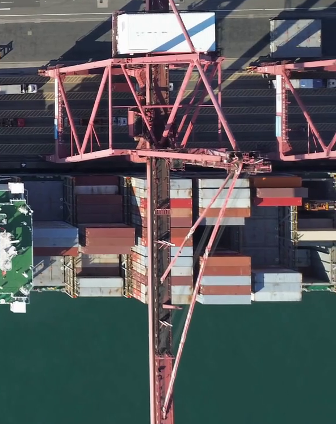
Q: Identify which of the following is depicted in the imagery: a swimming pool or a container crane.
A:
container crane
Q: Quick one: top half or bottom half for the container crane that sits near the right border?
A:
top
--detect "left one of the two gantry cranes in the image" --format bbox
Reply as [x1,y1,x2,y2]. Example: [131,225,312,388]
[36,0,266,424]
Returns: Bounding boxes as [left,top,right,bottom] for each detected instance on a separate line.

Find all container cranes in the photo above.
[36,0,266,424]
[251,65,336,162]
